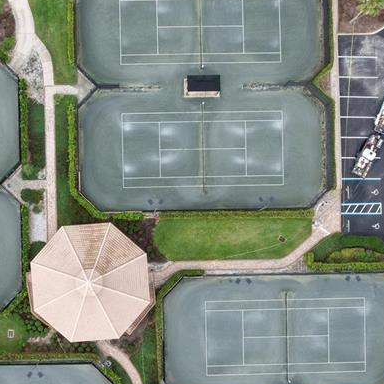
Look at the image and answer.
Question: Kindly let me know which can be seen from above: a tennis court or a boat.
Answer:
tennis court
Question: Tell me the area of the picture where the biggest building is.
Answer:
bottom left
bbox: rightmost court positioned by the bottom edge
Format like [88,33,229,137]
[163,273,384,384]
